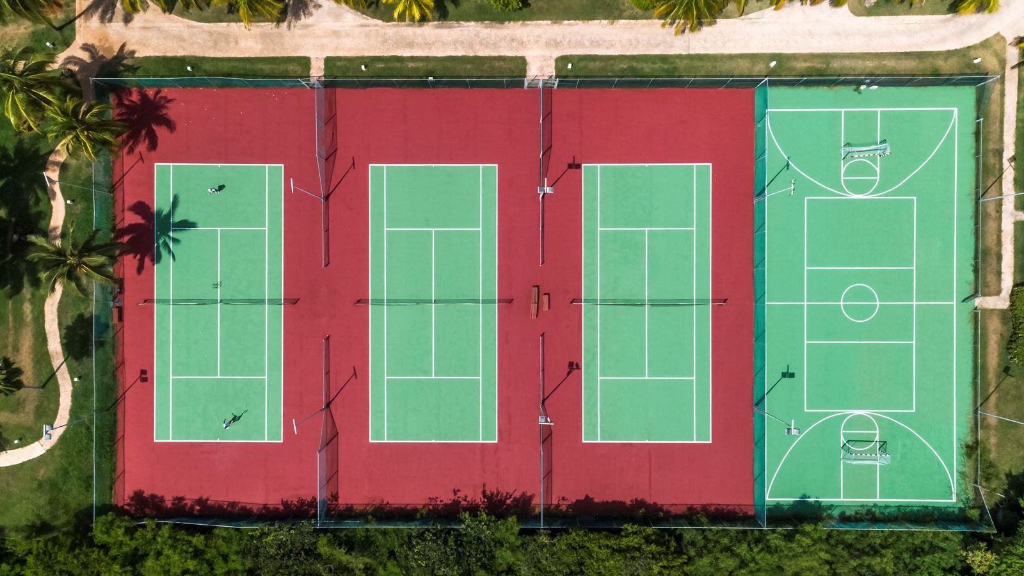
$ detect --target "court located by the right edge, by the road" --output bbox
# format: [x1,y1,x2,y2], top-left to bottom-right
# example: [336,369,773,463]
[767,86,976,519]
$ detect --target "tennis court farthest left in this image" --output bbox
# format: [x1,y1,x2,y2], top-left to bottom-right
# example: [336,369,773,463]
[114,88,325,518]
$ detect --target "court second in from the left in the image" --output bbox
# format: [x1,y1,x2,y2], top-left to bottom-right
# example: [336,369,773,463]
[325,88,541,517]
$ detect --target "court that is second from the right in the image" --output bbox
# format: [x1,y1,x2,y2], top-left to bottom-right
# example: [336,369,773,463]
[541,88,755,518]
